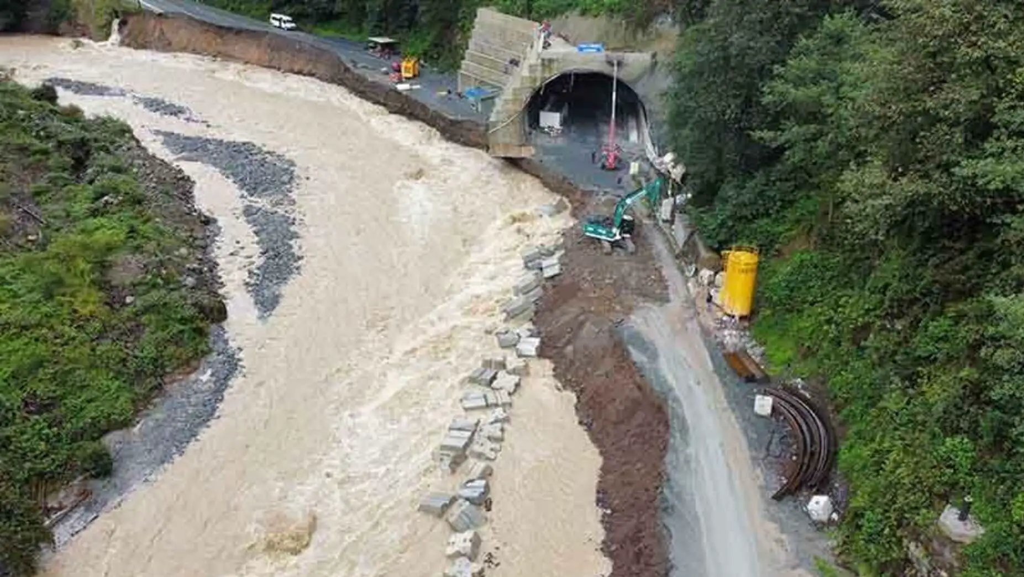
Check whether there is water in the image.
Yes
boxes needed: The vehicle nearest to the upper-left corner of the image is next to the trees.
[270,14,295,30]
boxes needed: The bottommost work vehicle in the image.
[585,183,667,255]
